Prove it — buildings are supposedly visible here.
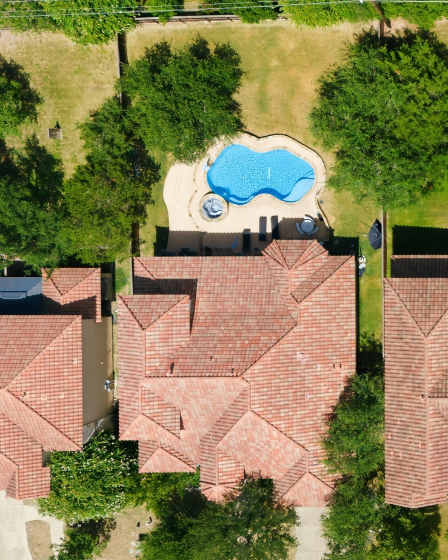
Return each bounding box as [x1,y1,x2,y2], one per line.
[383,254,448,508]
[116,239,357,508]
[0,267,114,500]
